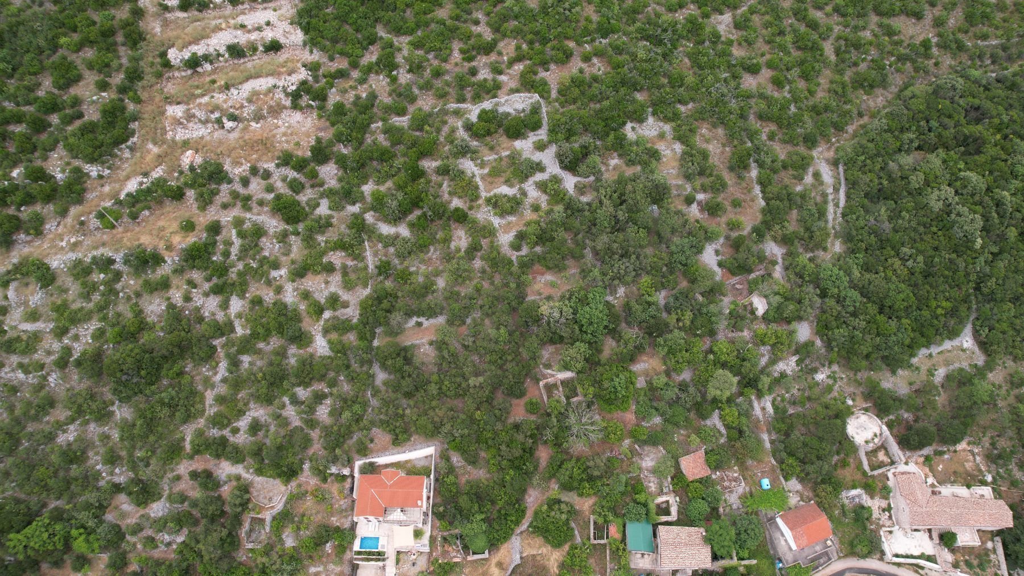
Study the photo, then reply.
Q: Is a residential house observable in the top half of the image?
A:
No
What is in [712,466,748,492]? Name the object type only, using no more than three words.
shed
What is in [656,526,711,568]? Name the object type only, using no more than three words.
house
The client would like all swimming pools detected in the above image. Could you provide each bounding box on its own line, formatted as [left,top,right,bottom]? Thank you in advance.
[354,536,388,551]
